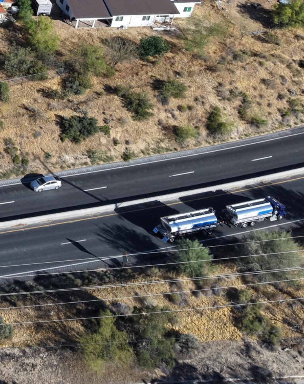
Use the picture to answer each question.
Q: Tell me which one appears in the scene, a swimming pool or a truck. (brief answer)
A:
truck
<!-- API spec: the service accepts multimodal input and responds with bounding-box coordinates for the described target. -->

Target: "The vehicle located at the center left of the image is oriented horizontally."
[29,174,63,191]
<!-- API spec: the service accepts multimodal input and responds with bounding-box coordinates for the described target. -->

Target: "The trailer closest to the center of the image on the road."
[150,202,222,240]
